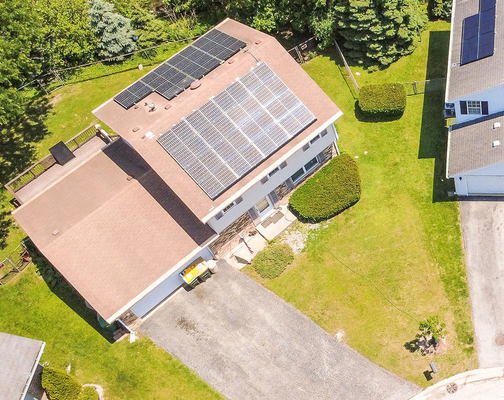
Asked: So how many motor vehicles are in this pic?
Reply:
0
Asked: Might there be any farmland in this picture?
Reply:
No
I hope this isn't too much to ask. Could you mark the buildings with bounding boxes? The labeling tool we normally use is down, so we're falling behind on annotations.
[0,336,49,400]
[443,0,504,199]
[4,20,345,349]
